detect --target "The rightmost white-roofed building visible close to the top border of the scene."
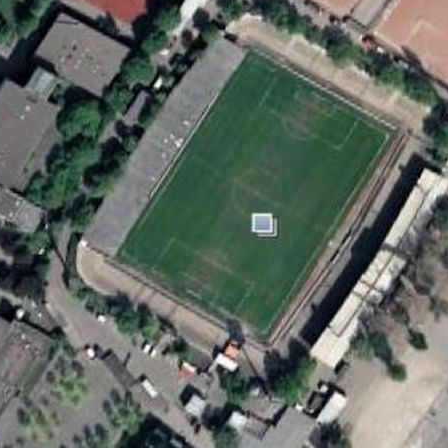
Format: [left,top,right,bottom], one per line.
[174,0,209,35]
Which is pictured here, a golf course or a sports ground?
sports ground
